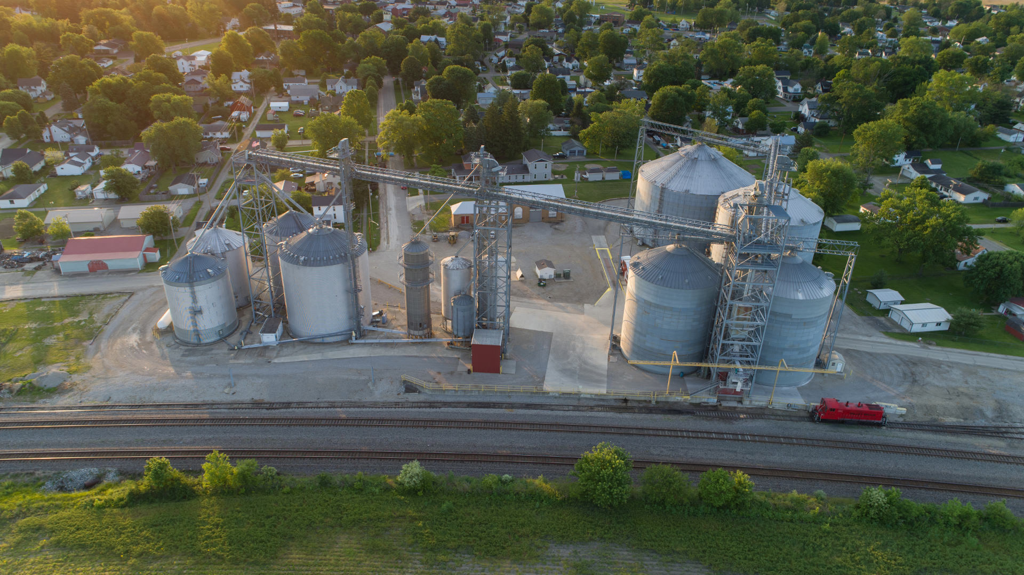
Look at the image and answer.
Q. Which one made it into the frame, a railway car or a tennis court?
railway car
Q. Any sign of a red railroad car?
Yes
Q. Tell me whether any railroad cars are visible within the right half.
Yes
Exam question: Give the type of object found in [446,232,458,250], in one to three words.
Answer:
vehicle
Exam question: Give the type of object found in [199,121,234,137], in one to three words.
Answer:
house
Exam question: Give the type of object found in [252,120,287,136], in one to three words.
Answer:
building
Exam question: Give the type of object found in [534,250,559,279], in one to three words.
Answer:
shed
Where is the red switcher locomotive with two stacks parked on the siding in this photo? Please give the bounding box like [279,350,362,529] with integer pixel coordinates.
[813,397,890,429]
